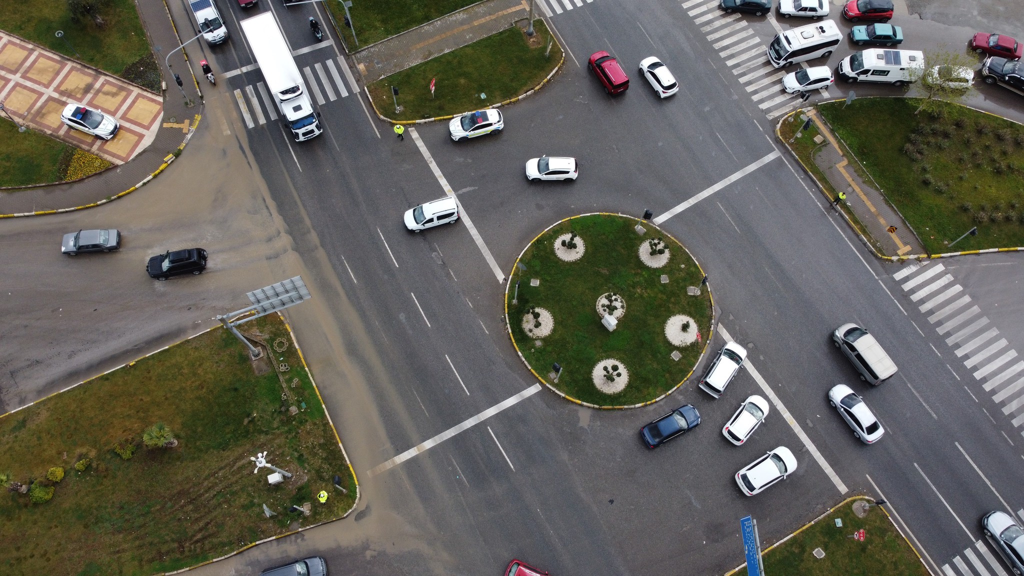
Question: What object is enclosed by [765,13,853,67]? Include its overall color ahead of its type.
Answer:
white vehicle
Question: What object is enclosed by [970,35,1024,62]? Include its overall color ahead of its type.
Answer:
red car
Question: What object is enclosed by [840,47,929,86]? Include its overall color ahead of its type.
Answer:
white van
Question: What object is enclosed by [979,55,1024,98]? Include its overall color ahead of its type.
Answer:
black truck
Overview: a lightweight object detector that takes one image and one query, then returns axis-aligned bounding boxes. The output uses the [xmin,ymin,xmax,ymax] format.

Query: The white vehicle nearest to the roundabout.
[698,340,748,400]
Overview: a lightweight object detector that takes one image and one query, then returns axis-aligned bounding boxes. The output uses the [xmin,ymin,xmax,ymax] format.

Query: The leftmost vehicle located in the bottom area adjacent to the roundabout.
[639,405,702,450]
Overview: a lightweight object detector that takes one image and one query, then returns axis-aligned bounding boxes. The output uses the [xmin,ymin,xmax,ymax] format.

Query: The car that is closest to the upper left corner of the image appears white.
[55,101,119,141]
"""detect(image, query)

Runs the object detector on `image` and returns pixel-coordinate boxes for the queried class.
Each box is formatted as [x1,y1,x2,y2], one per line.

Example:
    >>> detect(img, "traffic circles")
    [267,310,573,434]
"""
[503,212,714,410]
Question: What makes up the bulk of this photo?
paved ground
